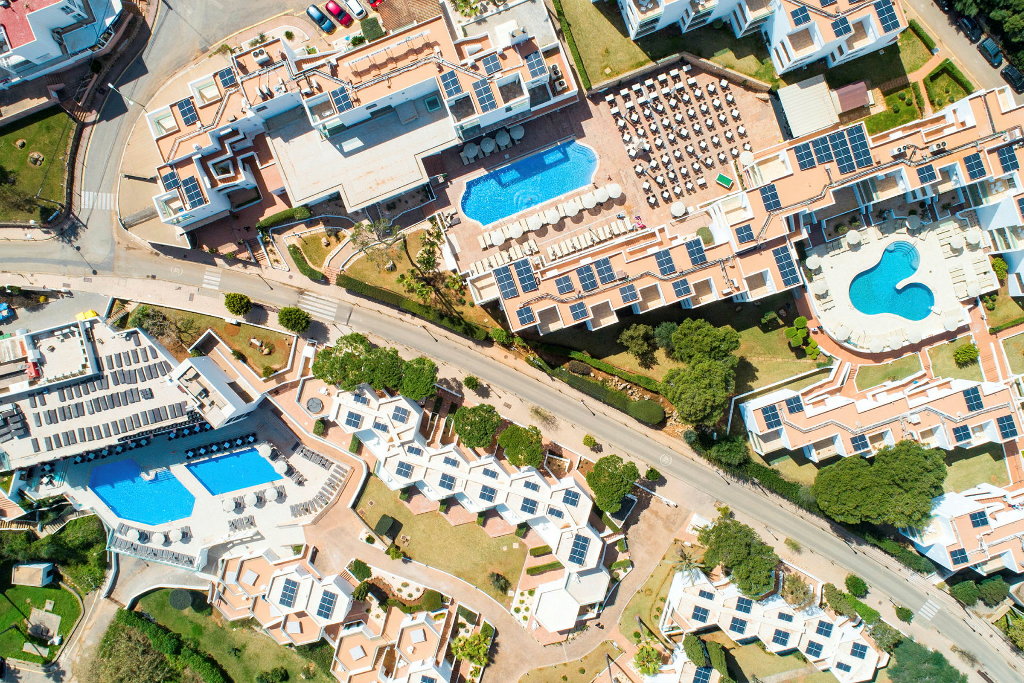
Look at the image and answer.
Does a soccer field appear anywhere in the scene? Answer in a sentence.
No, no soccer field can be seen from above.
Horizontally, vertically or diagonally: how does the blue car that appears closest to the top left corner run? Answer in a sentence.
I'd say the blue car that appears closest to the top left corner is aligned diagonally in the picture.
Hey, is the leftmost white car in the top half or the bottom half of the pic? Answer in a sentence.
The top half of the photo is where the leftmost white car is.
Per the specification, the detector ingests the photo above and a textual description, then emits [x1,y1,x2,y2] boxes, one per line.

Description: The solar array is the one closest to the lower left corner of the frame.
[278,579,299,608]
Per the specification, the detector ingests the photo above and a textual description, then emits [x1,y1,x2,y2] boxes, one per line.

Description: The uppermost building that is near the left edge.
[0,0,140,81]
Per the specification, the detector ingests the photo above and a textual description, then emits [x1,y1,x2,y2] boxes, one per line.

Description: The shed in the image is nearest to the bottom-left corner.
[12,561,57,587]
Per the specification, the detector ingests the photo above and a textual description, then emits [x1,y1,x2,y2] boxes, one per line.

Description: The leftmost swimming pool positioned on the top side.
[456,135,602,230]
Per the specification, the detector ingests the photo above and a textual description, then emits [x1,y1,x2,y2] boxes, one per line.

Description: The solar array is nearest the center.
[517,307,535,325]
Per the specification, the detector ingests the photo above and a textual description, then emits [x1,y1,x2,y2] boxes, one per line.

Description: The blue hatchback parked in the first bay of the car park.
[306,4,337,35]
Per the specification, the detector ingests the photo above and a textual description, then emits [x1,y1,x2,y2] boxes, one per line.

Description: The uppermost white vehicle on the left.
[342,0,369,23]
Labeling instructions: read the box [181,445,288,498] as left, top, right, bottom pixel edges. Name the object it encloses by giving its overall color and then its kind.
blue swimming pool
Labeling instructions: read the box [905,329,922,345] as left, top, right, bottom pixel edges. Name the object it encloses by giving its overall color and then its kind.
white umbrella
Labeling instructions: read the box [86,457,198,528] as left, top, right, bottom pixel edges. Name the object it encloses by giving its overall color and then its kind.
blue swimming pool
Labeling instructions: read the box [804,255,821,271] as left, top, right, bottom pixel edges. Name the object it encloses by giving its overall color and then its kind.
white umbrella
